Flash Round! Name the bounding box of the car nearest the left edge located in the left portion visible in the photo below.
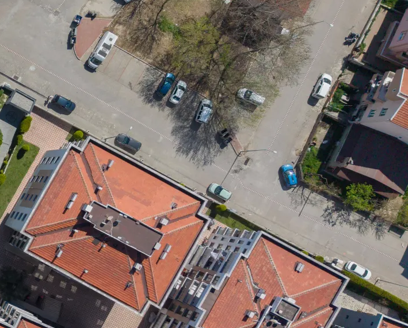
[46,93,74,113]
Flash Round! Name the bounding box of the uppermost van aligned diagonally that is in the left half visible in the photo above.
[90,30,121,67]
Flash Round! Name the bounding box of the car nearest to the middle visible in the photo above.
[206,182,233,202]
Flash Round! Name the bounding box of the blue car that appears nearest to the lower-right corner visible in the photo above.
[278,164,298,189]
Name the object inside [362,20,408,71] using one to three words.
house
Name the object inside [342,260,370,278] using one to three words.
car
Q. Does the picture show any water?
No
